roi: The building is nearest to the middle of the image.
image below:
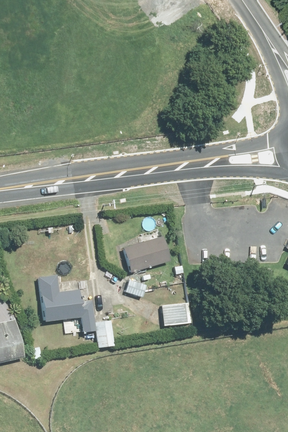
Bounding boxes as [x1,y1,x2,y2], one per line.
[124,236,170,272]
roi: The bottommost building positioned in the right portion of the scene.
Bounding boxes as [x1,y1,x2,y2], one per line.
[162,303,192,326]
